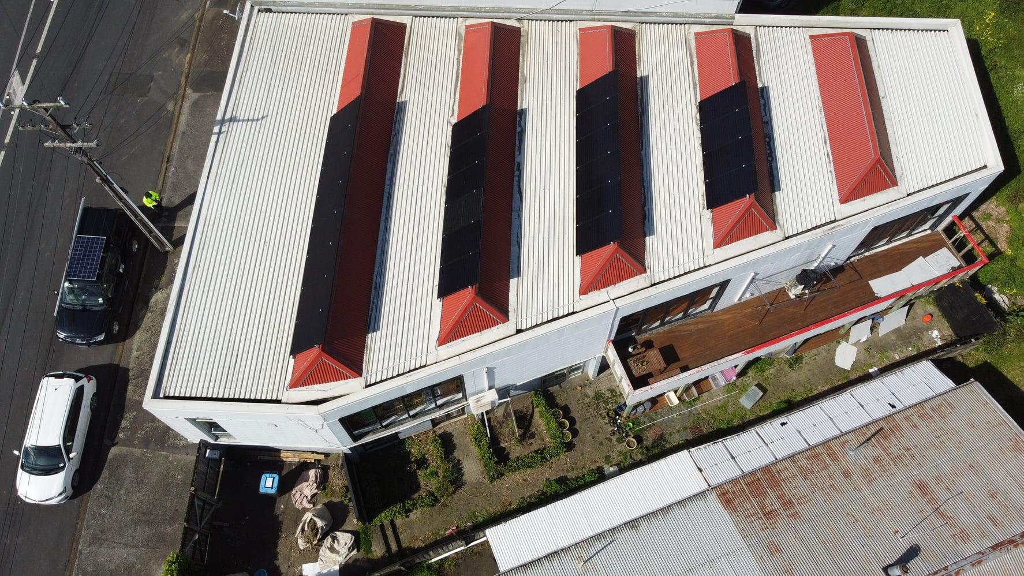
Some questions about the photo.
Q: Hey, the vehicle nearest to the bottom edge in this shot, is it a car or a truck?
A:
car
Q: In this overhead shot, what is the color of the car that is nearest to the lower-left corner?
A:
white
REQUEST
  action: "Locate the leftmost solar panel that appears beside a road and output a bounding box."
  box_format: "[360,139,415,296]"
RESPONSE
[66,239,106,282]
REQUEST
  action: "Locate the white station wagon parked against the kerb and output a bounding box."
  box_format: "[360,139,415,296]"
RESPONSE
[8,371,99,508]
